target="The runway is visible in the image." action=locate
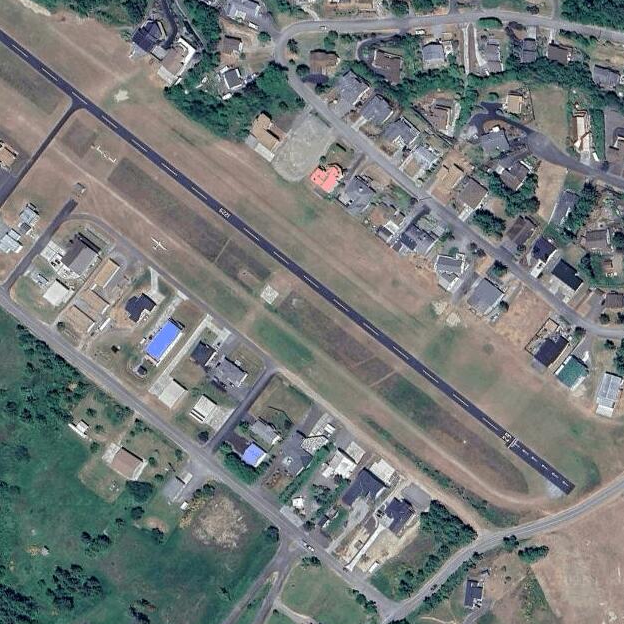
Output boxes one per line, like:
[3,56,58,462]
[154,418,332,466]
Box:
[0,26,575,493]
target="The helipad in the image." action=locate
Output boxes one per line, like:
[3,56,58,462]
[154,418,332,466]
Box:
[261,285,279,304]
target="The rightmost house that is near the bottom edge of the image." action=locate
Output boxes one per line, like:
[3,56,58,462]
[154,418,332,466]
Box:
[463,581,484,607]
